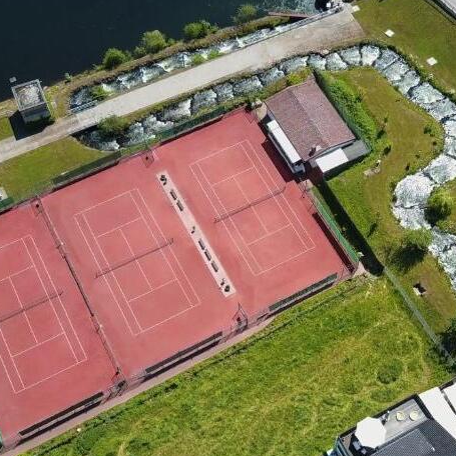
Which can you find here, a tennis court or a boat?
tennis court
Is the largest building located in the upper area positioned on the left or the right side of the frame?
right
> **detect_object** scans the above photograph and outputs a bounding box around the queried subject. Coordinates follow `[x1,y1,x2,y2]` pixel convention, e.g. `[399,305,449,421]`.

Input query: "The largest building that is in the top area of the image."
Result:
[266,84,356,168]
